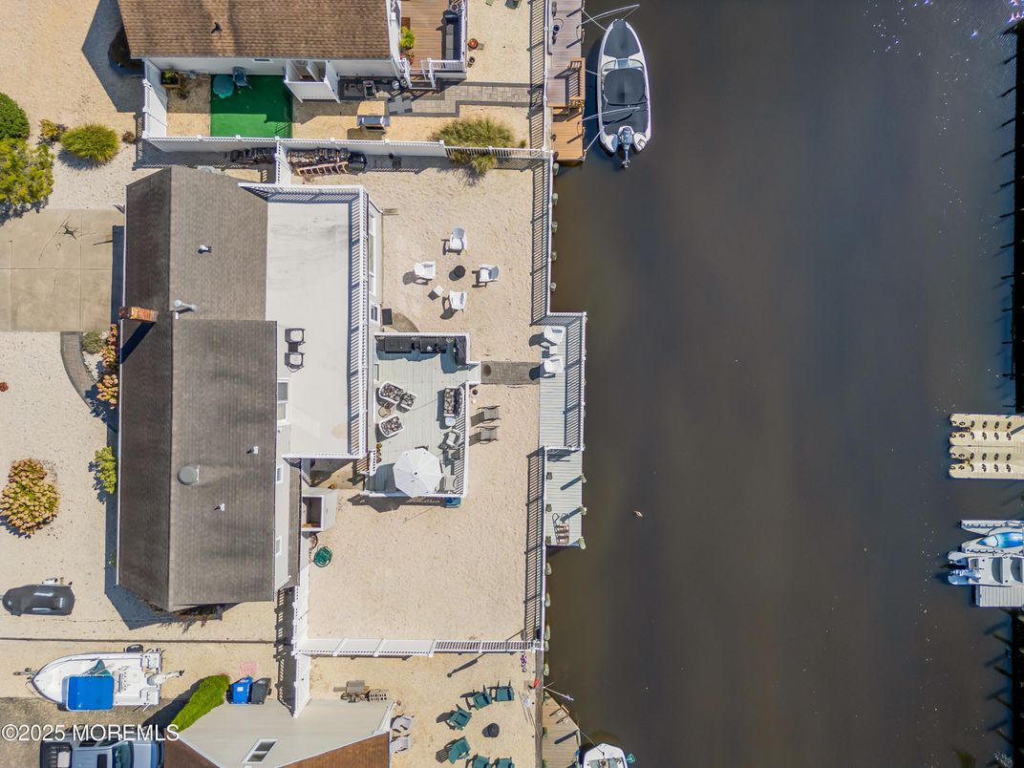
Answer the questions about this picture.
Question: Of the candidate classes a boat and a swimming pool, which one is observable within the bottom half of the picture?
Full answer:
It is a boat that can be seen within the bottom half of the picture.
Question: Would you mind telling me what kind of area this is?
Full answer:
What you see here is a residential area.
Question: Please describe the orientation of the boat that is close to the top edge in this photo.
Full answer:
What the image shows is the boat that is close to the top edge lying up and down.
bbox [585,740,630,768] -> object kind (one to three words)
boat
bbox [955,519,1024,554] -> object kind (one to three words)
pier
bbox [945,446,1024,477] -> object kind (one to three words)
pier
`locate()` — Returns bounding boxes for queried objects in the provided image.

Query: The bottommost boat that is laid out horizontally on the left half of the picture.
[29,651,177,715]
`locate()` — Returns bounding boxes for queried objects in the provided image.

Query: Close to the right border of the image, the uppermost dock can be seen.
[945,414,1024,445]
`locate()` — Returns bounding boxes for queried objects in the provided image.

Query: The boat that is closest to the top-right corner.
[596,16,650,163]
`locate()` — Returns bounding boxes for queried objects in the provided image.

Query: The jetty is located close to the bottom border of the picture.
[542,690,579,768]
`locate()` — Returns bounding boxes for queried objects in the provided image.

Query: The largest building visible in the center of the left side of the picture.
[116,167,383,610]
